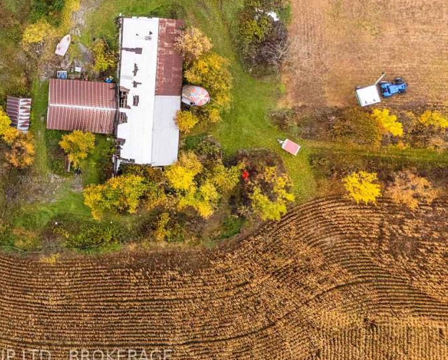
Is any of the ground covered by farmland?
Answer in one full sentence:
Yes, farmland can be seen from above here.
